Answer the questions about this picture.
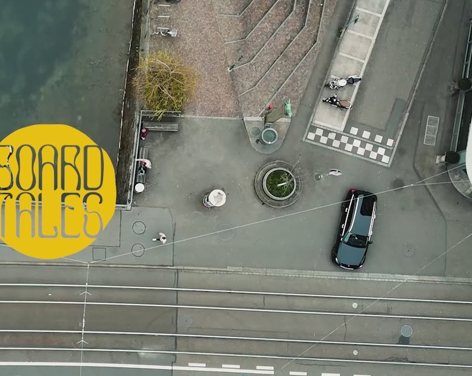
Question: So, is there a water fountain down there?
Yes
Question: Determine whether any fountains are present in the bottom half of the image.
No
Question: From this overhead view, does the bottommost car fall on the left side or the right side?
right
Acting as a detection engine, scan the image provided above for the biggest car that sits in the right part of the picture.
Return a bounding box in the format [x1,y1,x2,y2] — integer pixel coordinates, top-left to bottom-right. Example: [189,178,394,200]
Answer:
[334,190,379,268]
